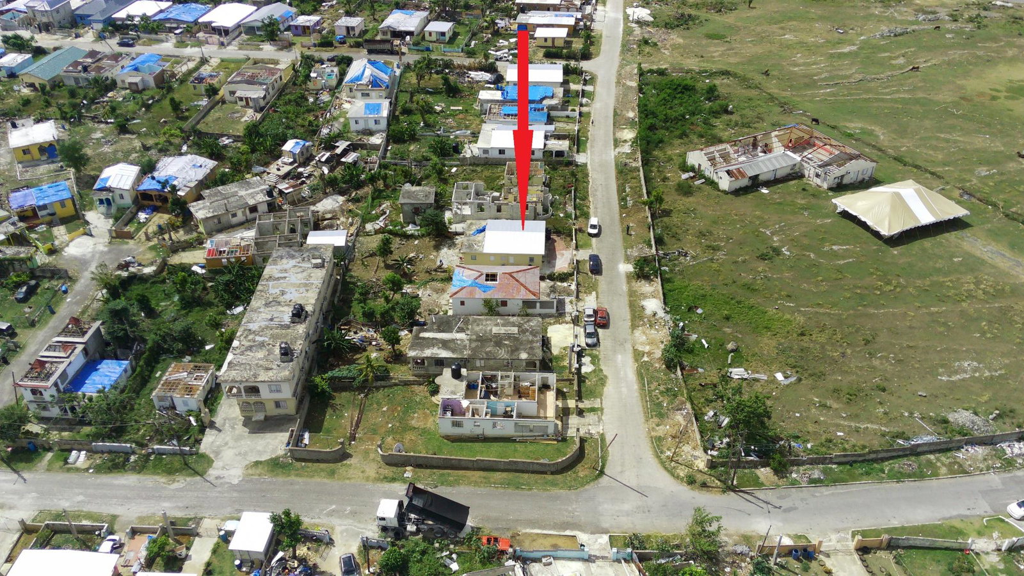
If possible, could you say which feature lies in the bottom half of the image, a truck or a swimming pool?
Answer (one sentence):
The one visible in the bottom half of the image is a truck.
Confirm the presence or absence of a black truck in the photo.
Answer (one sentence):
Yes, there's a black truck here.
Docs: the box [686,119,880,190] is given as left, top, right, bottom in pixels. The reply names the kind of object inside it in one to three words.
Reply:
building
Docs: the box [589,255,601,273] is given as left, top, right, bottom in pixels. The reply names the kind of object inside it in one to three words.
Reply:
vehicle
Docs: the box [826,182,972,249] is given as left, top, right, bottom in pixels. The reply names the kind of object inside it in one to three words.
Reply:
tent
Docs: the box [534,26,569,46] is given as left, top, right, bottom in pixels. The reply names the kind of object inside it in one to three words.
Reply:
house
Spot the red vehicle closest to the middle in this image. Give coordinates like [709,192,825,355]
[595,309,610,329]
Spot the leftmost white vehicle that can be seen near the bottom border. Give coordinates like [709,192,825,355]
[96,531,129,548]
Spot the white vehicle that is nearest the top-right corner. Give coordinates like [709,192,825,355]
[588,216,600,235]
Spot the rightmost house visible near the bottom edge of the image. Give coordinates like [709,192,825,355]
[228,510,278,570]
